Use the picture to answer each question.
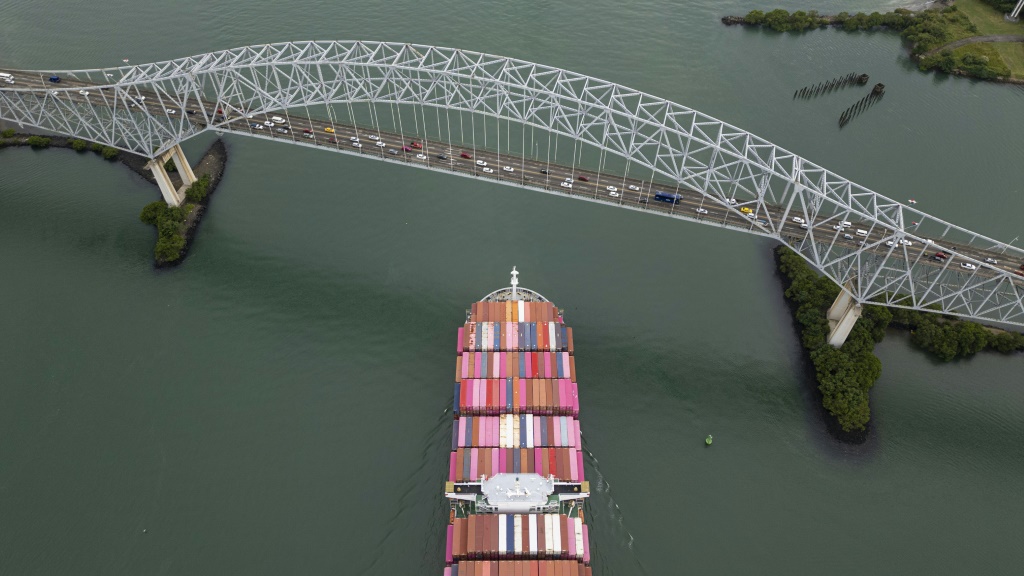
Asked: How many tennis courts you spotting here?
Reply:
0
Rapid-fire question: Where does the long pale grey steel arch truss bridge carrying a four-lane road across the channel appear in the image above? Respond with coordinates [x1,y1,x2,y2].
[0,40,1024,347]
